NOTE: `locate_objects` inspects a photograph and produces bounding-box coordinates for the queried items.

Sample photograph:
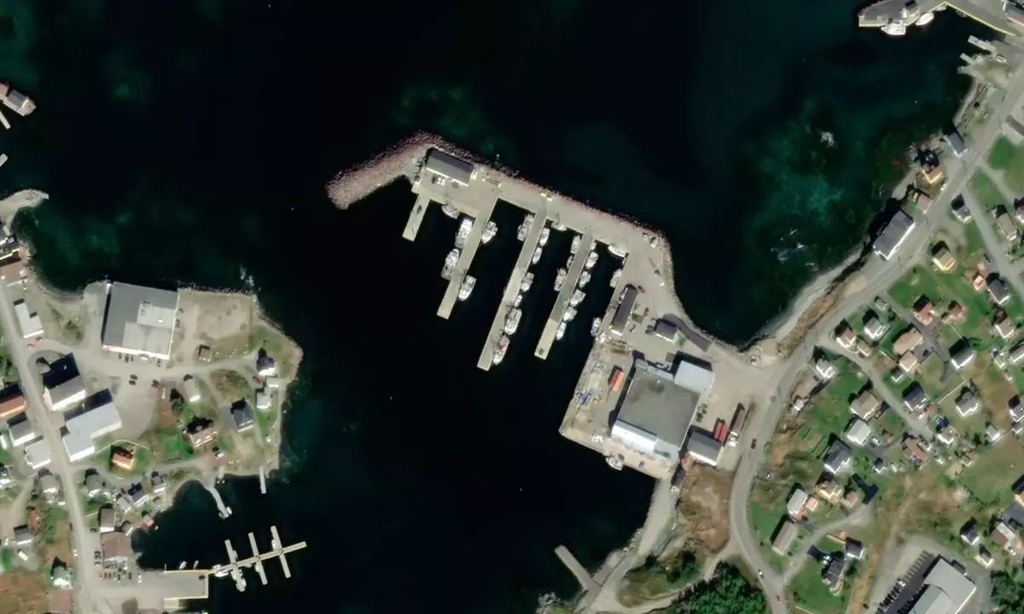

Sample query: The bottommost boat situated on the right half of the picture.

[607,456,625,470]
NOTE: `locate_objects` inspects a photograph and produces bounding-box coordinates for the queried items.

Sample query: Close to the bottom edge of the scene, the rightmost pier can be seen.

[555,545,594,591]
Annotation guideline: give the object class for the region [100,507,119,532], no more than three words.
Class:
house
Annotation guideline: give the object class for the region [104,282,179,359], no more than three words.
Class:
building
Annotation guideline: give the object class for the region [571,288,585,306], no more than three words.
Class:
boat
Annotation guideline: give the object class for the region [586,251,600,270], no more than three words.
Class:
boat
